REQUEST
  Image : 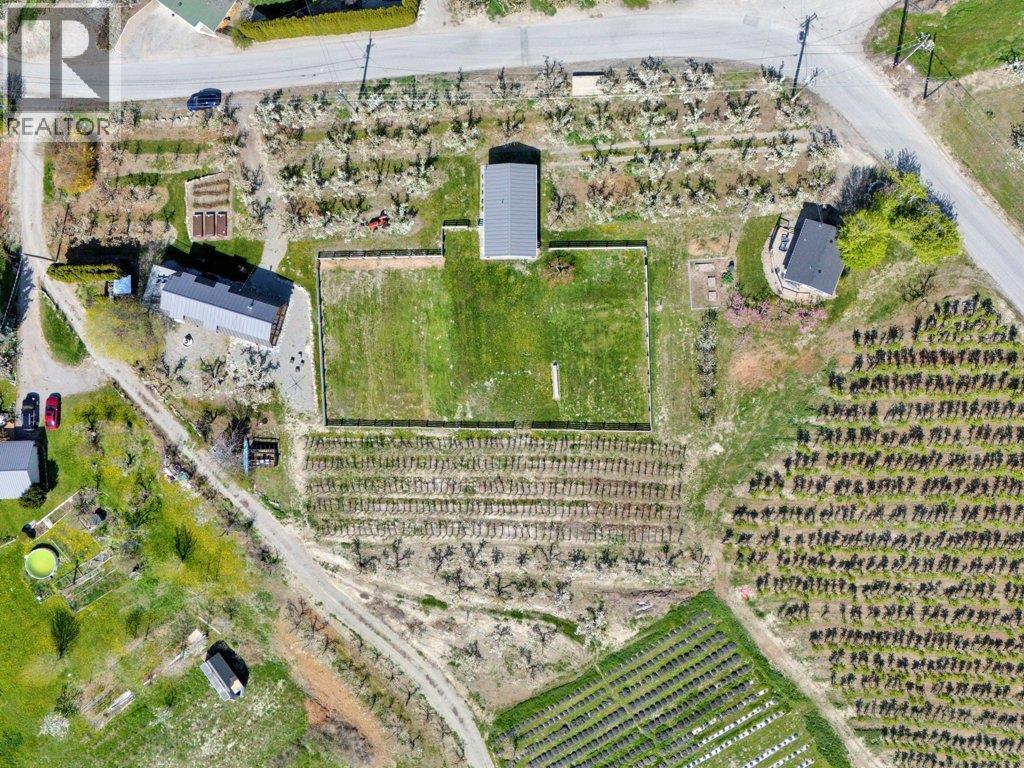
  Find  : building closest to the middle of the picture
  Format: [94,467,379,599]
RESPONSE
[485,162,537,256]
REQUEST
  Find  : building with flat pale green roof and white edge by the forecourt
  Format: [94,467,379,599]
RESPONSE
[158,0,256,46]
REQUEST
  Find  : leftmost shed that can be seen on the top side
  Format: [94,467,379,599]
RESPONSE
[113,276,141,295]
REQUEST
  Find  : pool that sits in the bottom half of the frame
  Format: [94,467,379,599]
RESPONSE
[26,545,61,578]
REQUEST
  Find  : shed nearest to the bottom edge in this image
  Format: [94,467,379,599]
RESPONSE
[201,648,250,700]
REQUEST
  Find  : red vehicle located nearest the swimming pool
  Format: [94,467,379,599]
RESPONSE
[46,394,66,428]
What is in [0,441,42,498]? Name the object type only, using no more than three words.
shed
